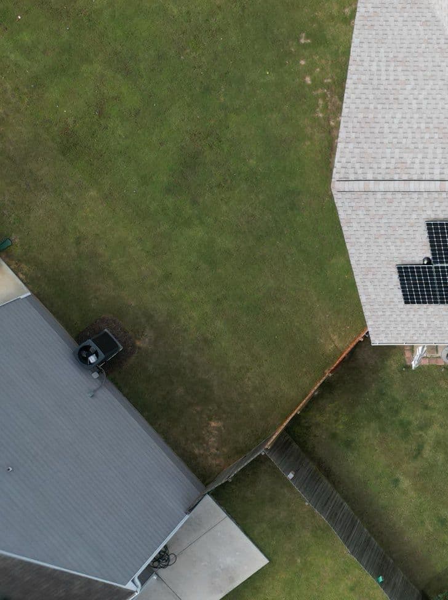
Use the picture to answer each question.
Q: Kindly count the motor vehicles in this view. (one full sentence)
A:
The count of motor vehicles is 0.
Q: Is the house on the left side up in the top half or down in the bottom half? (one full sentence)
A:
The house on the left side is in the bottom half of the image.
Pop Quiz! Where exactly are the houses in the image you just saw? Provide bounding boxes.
[0,293,210,600]
[331,0,448,350]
